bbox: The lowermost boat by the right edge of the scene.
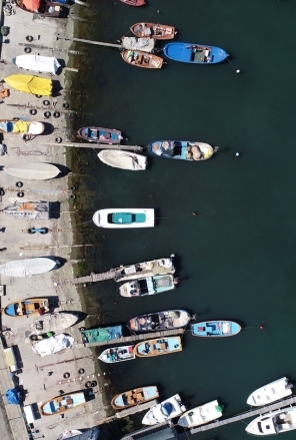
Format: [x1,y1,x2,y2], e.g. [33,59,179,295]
[245,403,296,435]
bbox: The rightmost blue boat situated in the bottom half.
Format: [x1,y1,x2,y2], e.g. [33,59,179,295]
[190,321,241,337]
